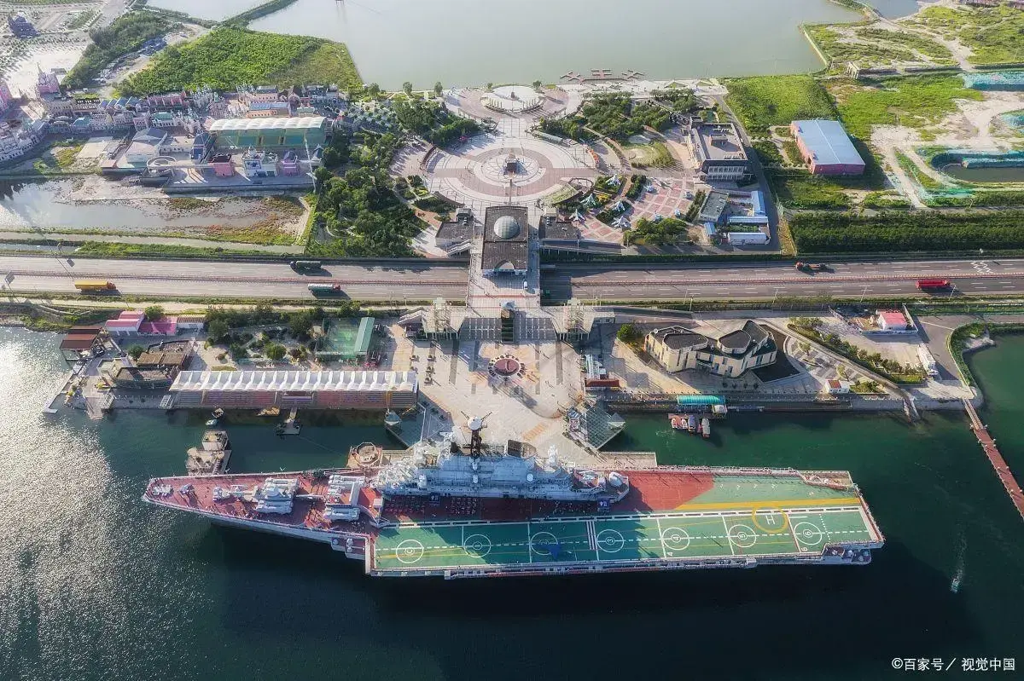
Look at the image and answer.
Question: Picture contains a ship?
Yes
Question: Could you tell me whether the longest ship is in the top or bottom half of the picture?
bottom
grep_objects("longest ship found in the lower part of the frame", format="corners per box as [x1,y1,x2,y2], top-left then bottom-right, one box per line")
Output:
[142,413,884,582]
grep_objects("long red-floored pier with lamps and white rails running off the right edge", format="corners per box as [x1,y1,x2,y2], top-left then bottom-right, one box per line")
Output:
[961,399,1024,522]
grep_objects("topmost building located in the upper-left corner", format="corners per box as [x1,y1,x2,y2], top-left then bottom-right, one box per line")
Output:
[4,15,40,40]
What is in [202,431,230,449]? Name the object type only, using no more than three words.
boat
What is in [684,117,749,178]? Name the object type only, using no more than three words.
building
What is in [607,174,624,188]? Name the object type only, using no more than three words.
airplane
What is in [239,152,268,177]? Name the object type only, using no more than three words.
house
